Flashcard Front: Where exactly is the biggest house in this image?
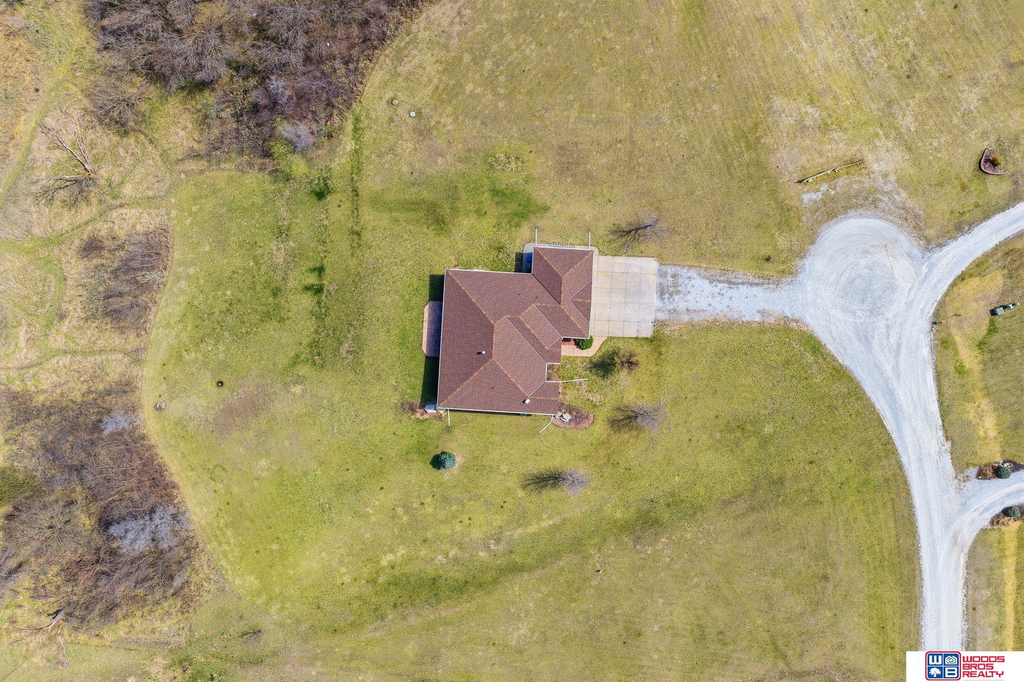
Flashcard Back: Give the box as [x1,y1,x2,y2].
[436,245,595,416]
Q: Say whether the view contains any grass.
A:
Yes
